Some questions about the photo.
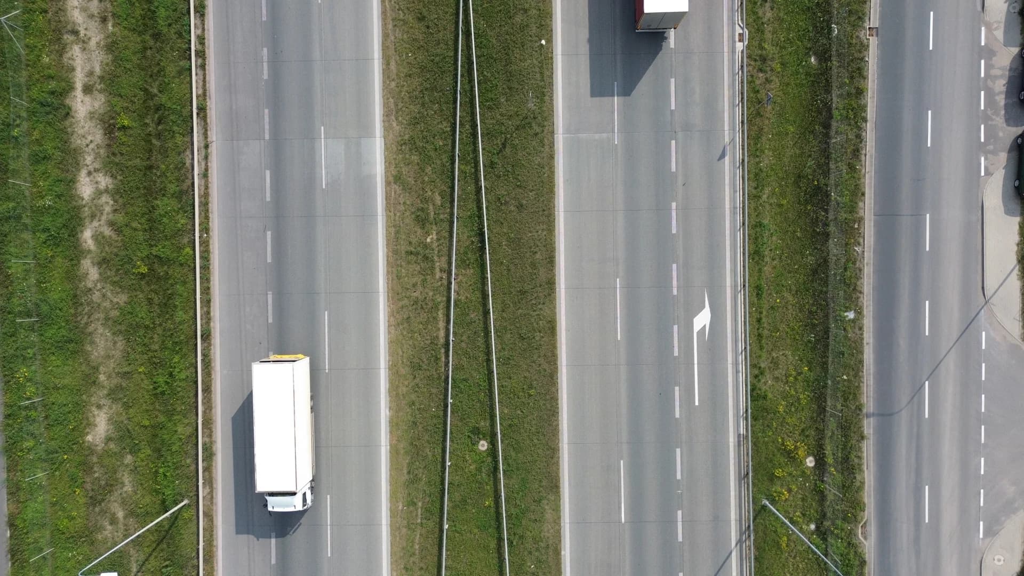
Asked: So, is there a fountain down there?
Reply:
No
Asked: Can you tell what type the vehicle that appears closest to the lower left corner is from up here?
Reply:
truck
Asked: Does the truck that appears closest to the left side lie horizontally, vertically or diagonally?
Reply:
vertically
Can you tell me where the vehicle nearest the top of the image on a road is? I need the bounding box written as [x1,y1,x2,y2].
[634,0,689,35]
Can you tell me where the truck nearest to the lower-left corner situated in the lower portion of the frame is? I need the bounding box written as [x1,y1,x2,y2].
[252,355,317,510]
